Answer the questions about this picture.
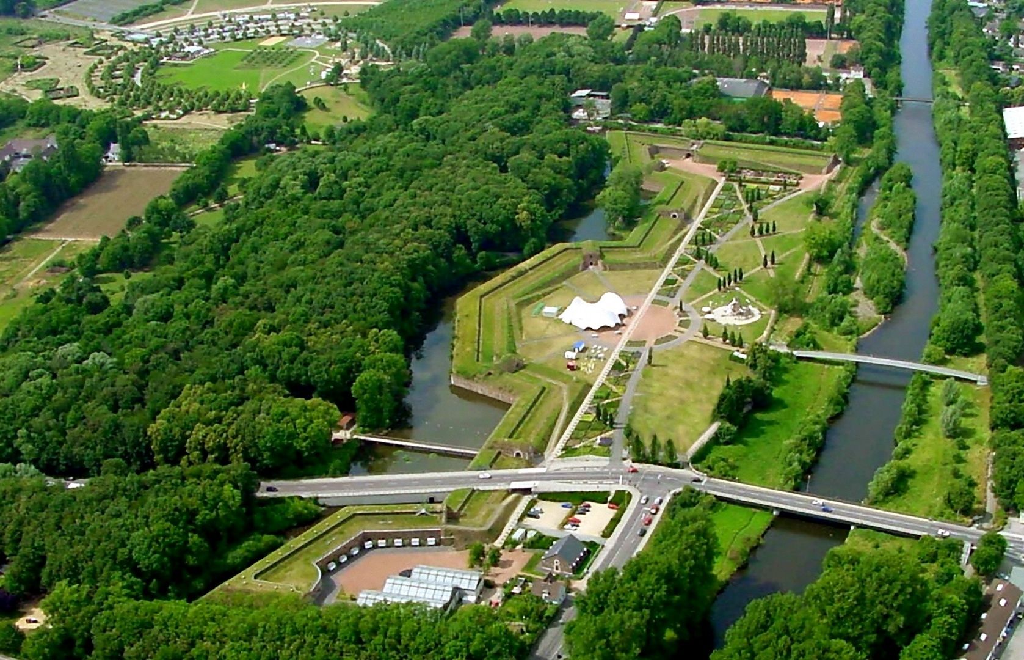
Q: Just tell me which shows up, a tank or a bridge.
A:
bridge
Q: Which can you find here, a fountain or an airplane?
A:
fountain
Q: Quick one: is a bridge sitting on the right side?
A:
Yes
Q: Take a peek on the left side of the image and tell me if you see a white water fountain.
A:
No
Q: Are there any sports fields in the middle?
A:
No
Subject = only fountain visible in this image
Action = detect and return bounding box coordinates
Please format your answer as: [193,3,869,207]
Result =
[712,296,759,325]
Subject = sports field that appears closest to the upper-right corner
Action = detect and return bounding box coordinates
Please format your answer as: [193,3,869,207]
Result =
[696,9,831,38]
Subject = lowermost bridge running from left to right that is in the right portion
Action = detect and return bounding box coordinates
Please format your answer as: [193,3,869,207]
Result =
[712,474,928,535]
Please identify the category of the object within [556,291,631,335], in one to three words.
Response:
tent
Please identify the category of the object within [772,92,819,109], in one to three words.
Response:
tennis court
